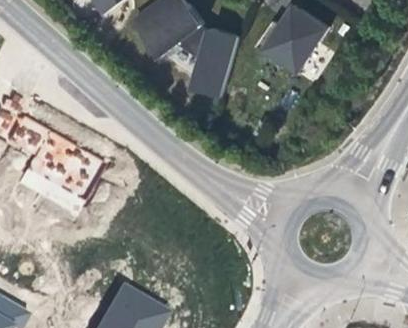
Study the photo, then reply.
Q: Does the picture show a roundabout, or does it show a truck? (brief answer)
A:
roundabout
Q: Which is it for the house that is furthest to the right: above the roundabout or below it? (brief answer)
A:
above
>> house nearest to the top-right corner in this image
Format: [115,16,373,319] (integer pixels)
[254,4,332,80]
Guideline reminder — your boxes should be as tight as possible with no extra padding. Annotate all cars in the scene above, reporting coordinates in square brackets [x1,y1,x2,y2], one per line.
[380,168,394,194]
